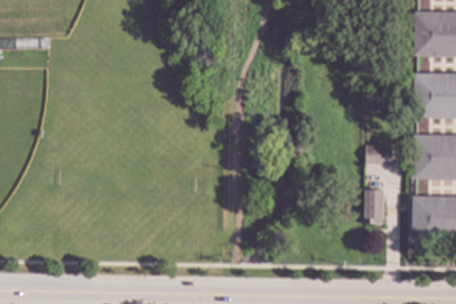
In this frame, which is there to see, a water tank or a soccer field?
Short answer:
soccer field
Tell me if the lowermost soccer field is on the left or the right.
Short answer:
left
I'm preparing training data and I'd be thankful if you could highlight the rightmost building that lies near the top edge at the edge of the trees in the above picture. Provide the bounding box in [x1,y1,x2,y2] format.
[416,11,456,56]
